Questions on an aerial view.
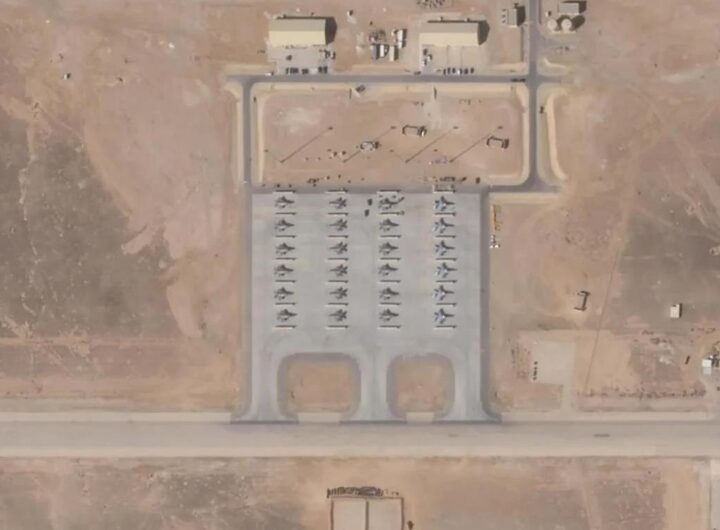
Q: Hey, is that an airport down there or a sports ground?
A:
airport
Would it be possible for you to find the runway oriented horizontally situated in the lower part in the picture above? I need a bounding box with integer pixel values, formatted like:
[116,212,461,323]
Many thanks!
[0,412,720,457]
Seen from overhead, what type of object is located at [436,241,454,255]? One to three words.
airplane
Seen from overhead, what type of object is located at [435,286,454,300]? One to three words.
airplane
